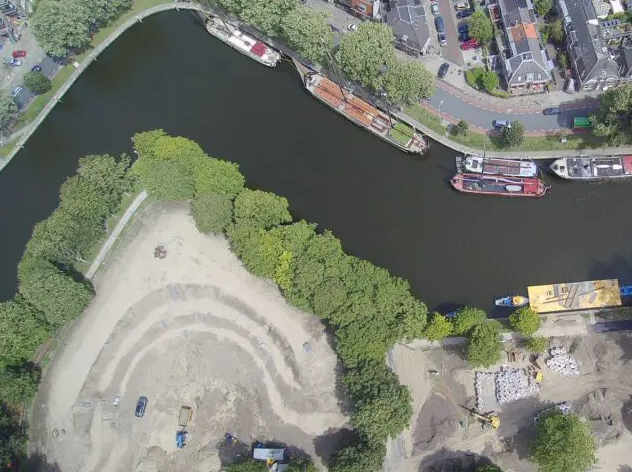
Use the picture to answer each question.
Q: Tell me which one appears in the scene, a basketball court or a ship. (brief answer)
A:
ship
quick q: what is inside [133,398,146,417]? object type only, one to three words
vehicle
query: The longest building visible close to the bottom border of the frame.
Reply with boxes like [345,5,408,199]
[249,449,284,463]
